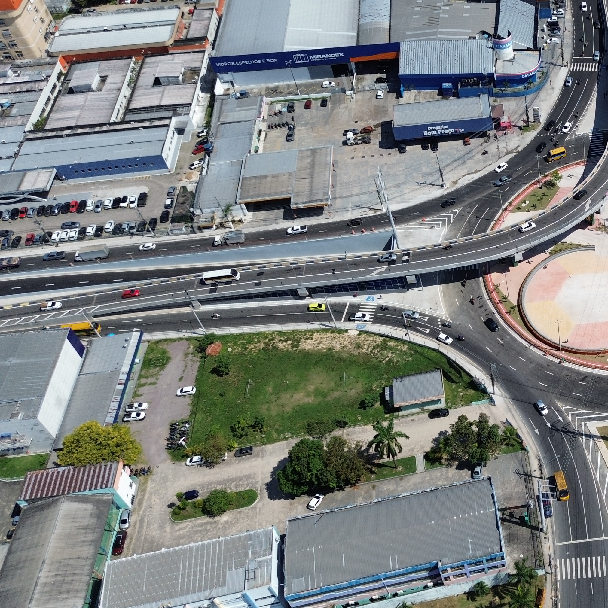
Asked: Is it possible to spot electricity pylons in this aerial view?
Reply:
Yes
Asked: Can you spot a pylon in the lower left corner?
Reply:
No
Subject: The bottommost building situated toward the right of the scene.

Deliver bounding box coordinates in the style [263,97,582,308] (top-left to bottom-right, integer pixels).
[284,477,508,608]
